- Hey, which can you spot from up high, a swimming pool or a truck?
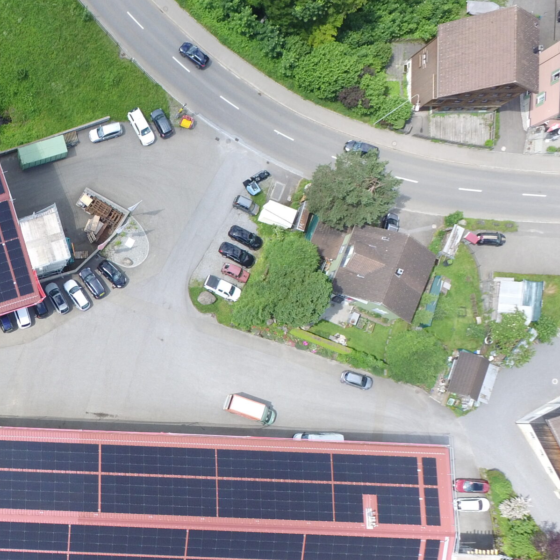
truck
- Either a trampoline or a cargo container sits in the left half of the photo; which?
cargo container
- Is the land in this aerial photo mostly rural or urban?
urban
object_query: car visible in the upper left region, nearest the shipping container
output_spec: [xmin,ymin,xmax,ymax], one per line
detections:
[88,122,123,145]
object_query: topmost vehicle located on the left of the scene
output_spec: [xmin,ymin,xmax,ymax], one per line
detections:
[175,42,213,72]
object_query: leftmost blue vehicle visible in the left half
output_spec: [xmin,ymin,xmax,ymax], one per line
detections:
[0,311,15,333]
